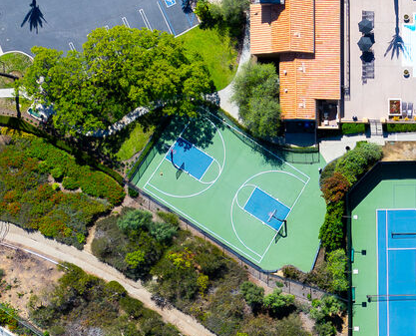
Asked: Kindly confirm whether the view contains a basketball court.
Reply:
Yes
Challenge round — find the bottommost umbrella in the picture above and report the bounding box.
[359,37,372,52]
